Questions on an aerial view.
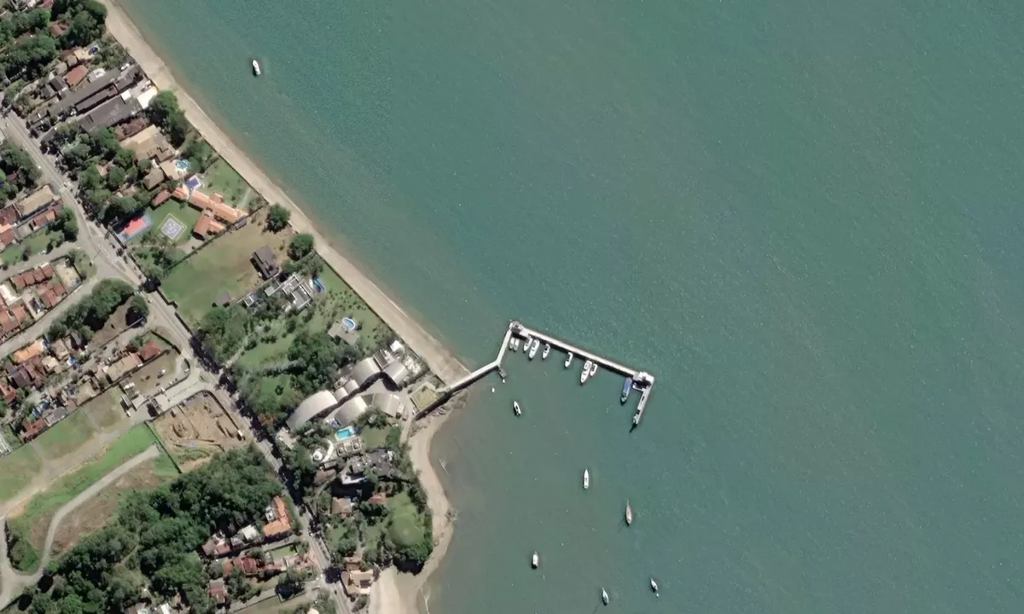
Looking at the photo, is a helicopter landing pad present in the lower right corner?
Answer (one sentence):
No, no helicopter landing pad can be made out in the lower right corner.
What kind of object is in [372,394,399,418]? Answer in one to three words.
shed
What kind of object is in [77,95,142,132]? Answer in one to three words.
building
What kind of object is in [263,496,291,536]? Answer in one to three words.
house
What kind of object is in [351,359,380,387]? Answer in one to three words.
hangar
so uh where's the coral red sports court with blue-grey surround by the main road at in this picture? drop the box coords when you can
[115,208,153,243]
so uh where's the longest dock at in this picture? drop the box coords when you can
[445,320,654,424]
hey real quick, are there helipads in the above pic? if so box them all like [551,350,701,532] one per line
[156,213,187,241]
